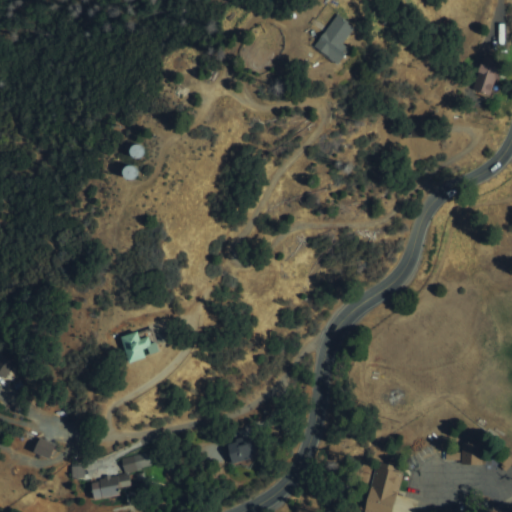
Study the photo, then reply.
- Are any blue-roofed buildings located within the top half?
No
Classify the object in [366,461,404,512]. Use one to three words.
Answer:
building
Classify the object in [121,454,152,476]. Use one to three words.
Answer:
building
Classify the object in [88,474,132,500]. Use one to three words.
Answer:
house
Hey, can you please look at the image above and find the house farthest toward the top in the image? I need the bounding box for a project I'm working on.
[313,14,352,63]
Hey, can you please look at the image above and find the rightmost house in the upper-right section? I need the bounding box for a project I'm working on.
[472,62,499,96]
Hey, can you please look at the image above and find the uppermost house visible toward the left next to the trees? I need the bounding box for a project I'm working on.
[121,332,160,363]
